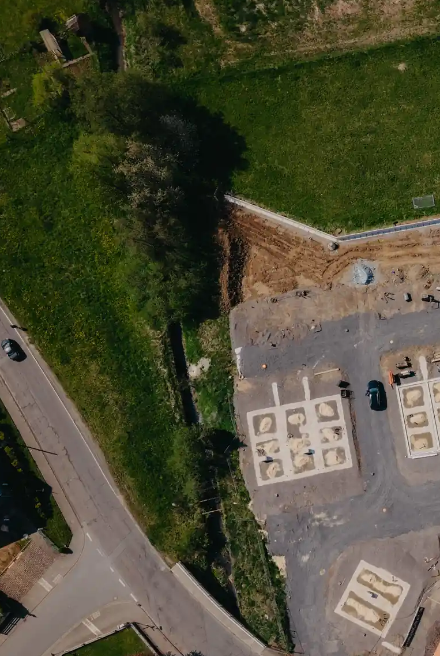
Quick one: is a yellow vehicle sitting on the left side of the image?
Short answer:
No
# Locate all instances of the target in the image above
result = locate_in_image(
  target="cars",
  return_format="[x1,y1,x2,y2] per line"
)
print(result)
[3,337,25,362]
[368,380,384,411]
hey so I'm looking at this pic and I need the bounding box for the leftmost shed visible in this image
[41,28,65,57]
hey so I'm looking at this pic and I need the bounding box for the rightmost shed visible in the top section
[66,14,90,40]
